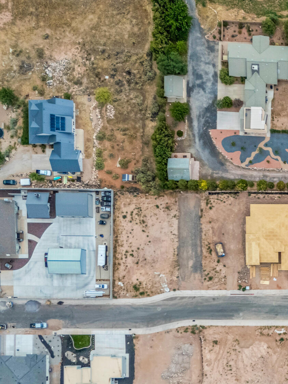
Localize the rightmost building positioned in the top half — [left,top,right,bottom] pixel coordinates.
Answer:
[226,34,288,137]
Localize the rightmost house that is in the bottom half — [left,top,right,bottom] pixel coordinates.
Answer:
[245,205,288,271]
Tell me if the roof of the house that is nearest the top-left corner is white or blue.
blue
